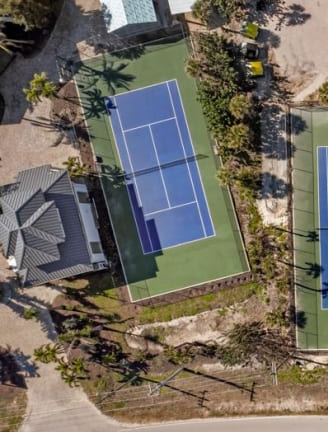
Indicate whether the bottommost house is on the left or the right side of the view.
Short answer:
left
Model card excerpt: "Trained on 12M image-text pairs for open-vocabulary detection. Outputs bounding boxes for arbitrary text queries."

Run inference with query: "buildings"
[0,167,111,289]
[101,0,168,40]
[170,0,198,20]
